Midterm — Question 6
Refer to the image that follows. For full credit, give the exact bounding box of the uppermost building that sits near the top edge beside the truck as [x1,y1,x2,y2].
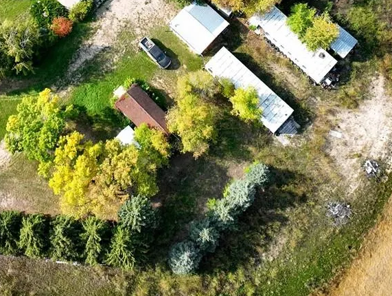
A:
[168,0,230,58]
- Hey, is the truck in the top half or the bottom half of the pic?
top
